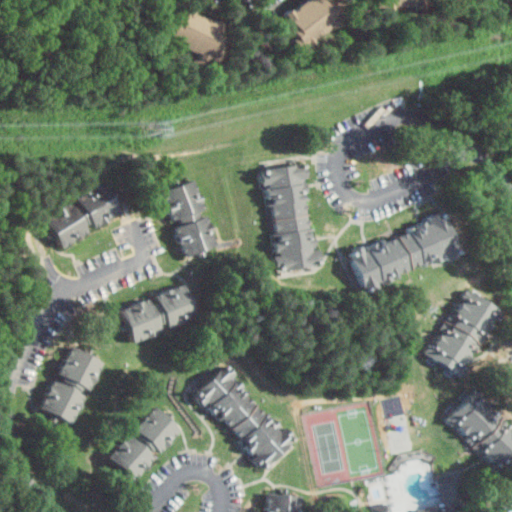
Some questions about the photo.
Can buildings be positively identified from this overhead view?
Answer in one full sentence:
Yes, there's a building down there.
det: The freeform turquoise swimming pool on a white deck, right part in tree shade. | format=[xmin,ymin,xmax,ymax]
[384,460,441,512]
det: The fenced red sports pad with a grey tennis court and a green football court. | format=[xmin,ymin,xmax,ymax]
[302,402,385,487]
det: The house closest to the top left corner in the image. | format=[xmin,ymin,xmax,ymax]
[173,12,224,58]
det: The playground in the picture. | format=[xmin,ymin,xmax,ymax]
[382,398,413,456]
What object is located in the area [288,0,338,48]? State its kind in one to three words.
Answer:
house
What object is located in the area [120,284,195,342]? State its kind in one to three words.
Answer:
building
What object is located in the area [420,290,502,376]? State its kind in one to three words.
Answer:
building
